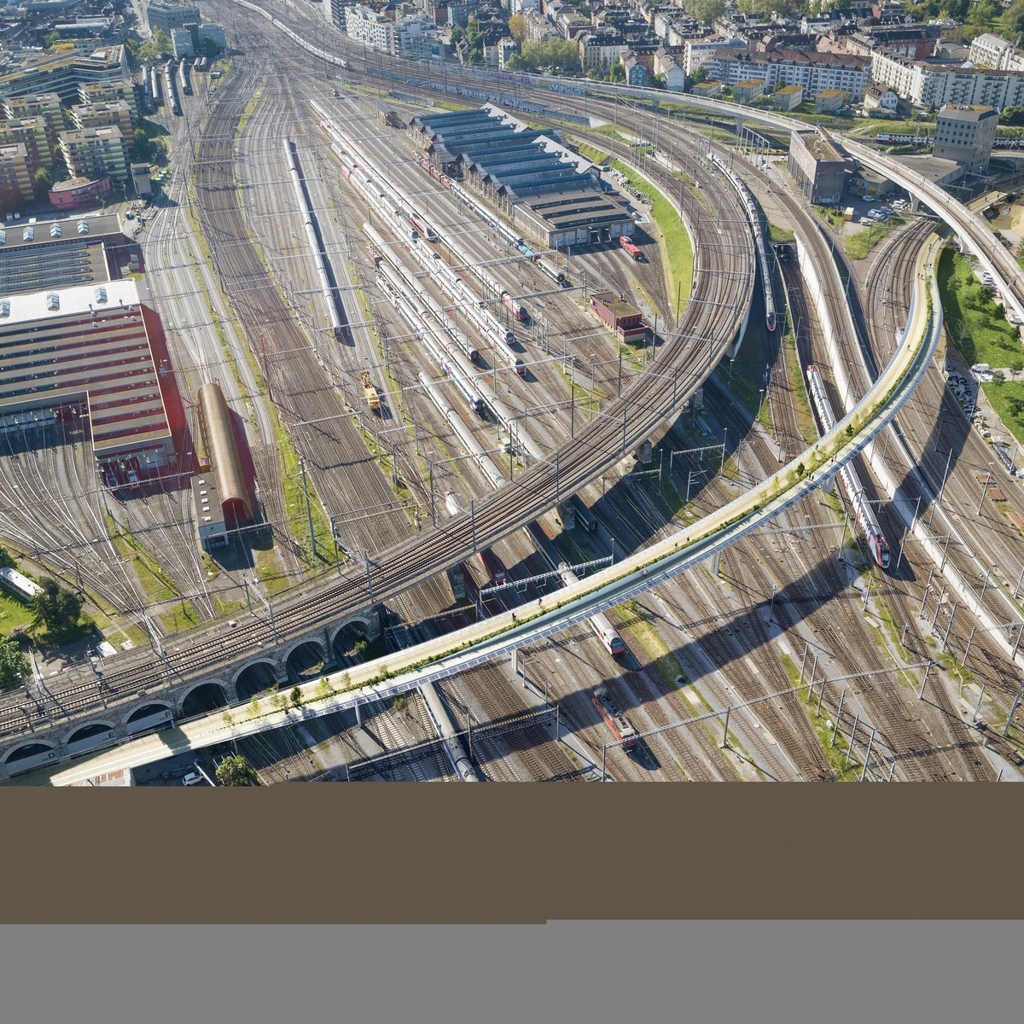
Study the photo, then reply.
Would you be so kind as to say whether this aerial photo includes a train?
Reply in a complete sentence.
Yes, a train appears in the view.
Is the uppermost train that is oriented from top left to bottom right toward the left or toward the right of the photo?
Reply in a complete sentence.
The uppermost train that is oriented from top left to bottom right is on the left side of the image.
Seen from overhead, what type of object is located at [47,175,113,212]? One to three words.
house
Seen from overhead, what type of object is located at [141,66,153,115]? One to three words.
train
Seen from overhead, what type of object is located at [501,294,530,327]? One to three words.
rail car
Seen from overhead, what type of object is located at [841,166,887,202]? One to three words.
shed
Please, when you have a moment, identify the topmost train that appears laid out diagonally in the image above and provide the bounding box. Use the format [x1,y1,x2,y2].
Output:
[226,0,350,74]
